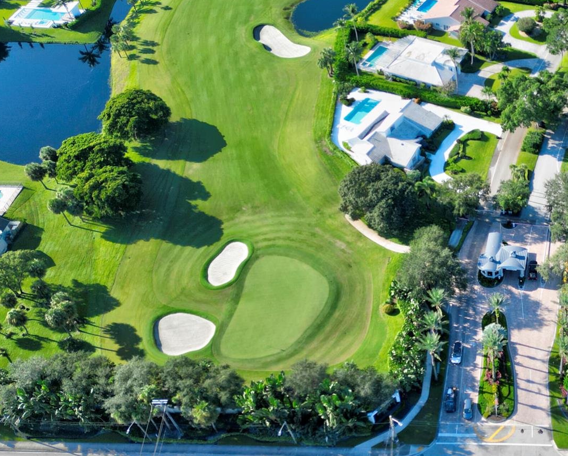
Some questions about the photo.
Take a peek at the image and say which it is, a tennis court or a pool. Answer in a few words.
pool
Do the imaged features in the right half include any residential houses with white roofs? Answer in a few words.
Yes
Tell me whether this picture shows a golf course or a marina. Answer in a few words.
golf course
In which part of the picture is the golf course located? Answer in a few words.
center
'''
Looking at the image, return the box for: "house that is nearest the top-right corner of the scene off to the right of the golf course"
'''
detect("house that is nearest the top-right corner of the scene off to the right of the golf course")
[424,0,500,40]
